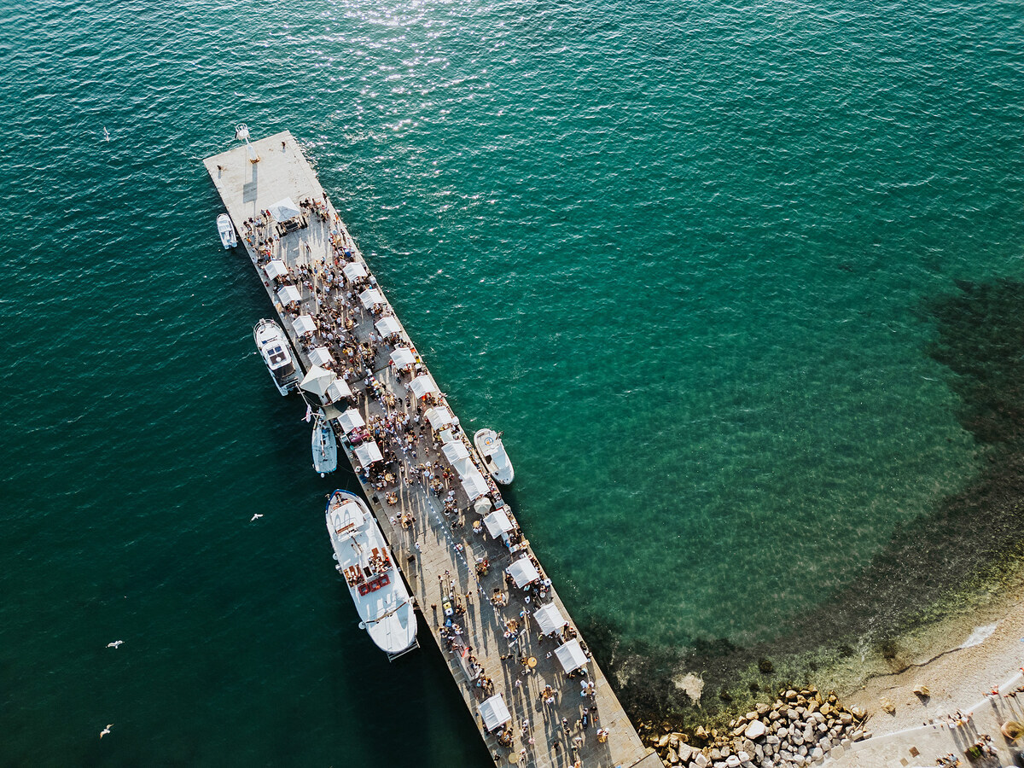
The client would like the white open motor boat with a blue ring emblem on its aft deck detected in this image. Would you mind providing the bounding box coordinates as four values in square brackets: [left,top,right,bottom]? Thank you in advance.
[474,428,511,489]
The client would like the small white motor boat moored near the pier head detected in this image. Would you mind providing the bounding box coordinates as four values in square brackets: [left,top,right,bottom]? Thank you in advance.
[217,214,241,252]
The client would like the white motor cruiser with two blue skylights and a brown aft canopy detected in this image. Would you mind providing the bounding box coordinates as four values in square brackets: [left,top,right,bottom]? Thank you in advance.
[255,318,304,396]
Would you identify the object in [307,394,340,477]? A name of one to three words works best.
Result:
boat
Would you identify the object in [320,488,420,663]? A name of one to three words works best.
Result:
boat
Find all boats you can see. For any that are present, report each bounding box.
[217,214,241,252]
[474,428,511,489]
[320,488,420,663]
[255,318,304,396]
[307,394,340,477]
